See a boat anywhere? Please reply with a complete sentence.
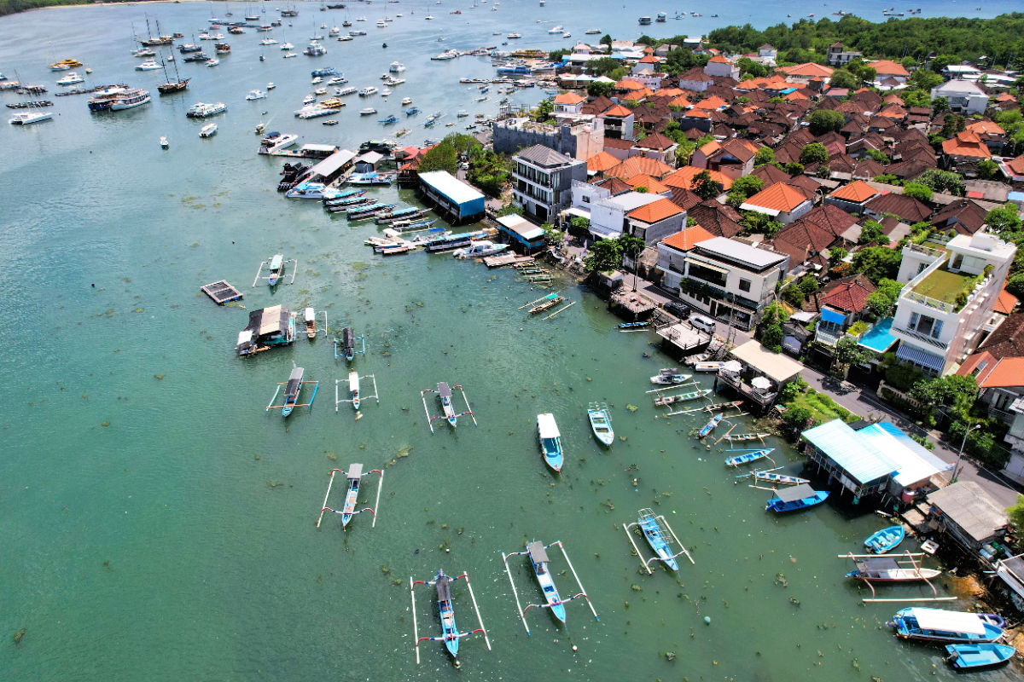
Yes, a boat appears in the view.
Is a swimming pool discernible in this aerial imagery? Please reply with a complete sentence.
Yes, the frame does contain a swimming pool.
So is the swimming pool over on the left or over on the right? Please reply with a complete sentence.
You can find the swimming pool on the right side of the picture.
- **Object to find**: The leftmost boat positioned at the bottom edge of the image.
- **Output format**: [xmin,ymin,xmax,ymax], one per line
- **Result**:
[412,563,486,665]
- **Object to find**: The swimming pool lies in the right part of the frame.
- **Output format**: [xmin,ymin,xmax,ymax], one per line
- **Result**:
[853,316,894,370]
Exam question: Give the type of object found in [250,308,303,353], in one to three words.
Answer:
house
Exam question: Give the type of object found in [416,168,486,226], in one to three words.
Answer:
shed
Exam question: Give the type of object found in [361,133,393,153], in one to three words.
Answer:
boat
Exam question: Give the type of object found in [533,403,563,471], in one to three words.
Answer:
boat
